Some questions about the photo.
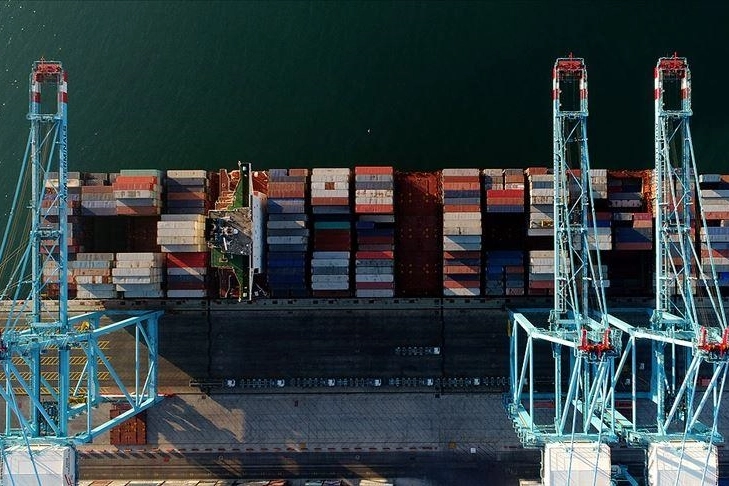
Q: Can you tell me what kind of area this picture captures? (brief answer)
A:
port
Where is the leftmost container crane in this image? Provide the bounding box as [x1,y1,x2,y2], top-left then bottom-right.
[0,55,177,486]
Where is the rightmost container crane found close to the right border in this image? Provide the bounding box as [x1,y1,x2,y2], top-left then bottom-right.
[579,51,729,486]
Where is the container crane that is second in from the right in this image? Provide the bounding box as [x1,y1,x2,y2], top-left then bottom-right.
[497,52,620,486]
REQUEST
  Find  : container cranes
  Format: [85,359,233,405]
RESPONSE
[497,52,620,486]
[579,51,729,486]
[0,55,177,486]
